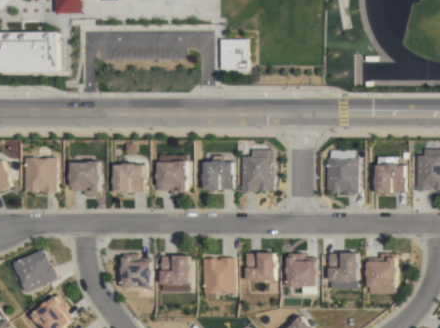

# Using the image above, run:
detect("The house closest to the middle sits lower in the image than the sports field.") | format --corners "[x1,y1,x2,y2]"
[202,155,234,192]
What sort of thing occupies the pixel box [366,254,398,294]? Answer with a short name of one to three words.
house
